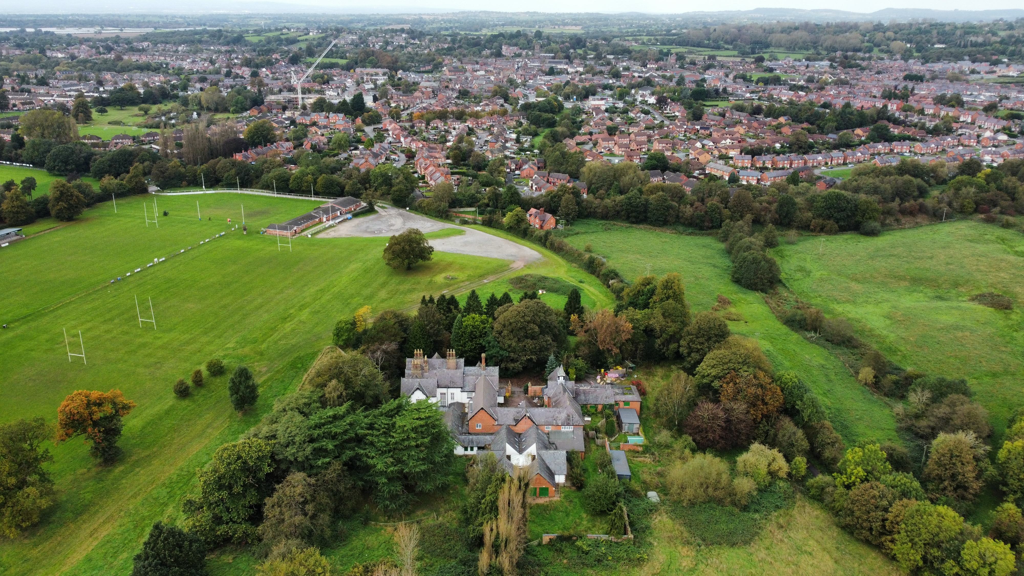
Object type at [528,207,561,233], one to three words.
house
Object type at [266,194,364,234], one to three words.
building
